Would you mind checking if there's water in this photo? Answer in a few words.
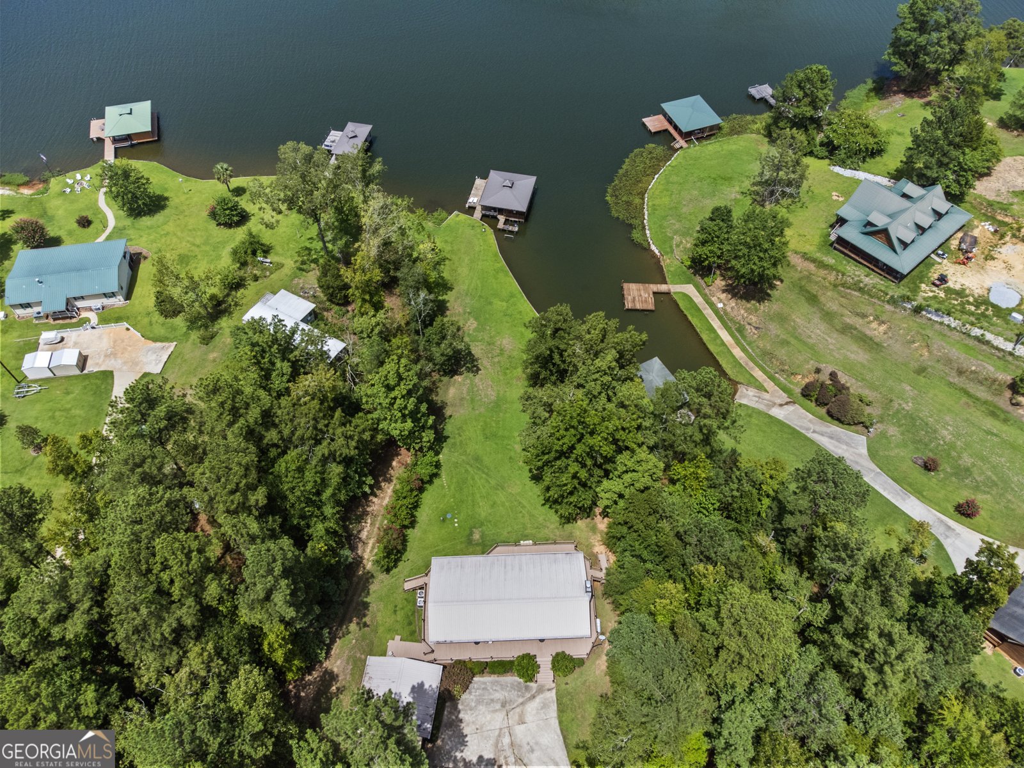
Yes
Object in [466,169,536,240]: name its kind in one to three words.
building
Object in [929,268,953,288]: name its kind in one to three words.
vehicle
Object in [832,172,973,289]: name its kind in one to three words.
house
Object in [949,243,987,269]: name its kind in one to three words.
work vehicle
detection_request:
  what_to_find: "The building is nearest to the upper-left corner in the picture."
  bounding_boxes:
[88,100,159,161]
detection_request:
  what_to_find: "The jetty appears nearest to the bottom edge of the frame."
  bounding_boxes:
[622,278,672,314]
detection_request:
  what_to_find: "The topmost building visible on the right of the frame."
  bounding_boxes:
[641,94,723,151]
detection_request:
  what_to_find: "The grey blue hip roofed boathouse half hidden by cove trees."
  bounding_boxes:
[637,357,671,393]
